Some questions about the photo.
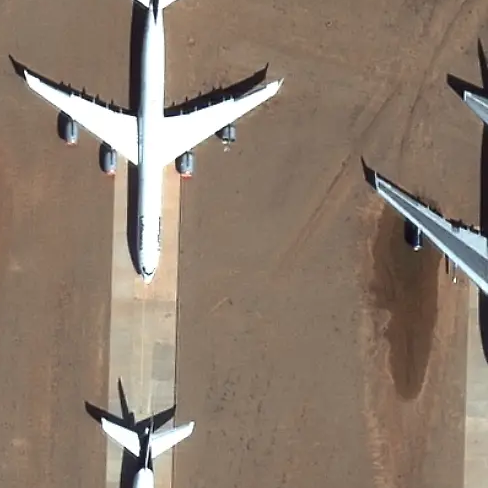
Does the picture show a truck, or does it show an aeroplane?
aeroplane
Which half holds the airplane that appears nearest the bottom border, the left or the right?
left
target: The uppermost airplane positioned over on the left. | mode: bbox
[26,0,283,284]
